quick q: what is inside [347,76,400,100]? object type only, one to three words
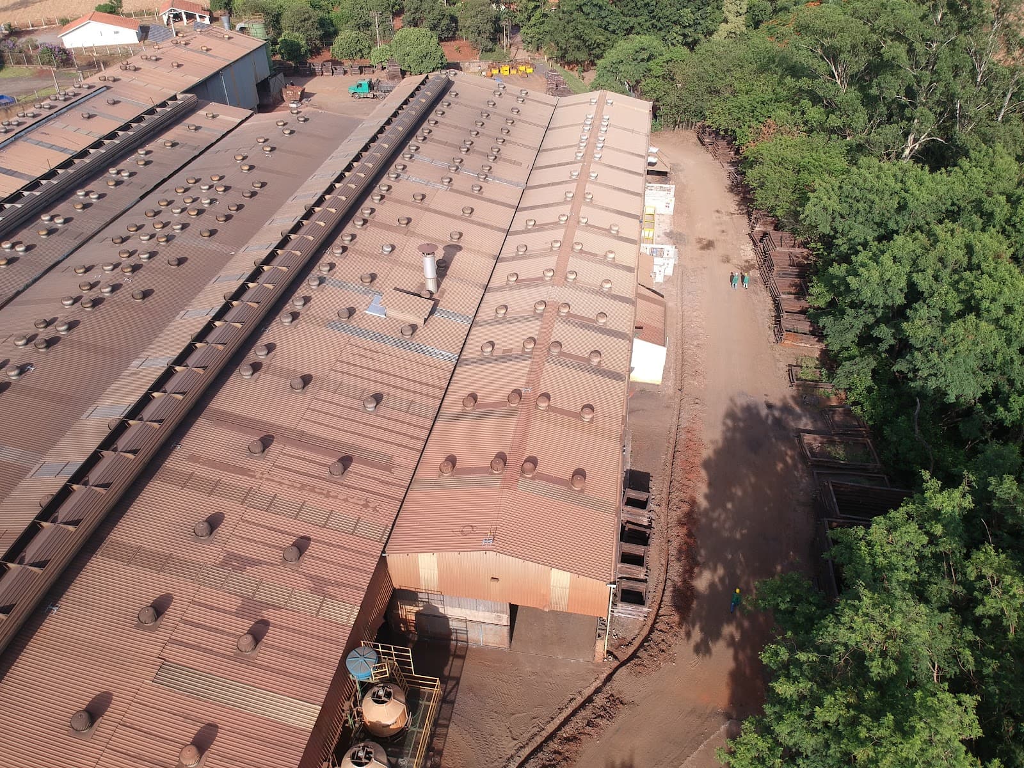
truck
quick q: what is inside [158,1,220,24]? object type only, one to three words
house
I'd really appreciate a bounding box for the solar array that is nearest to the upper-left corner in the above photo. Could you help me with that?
[148,24,177,42]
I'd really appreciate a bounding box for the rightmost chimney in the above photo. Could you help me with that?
[420,245,443,295]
